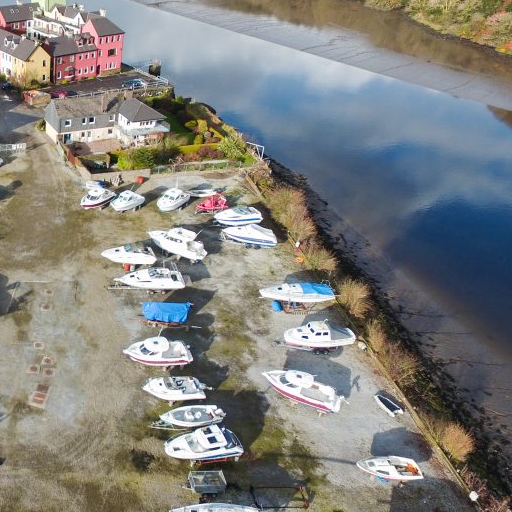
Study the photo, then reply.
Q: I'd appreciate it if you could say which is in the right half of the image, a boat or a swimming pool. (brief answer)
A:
boat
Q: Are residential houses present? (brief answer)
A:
Yes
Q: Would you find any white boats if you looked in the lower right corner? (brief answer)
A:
Yes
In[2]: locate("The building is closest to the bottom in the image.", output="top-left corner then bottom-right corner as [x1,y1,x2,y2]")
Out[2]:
[54,86,170,152]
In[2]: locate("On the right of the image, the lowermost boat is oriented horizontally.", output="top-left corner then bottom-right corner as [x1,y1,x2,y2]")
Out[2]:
[358,457,424,487]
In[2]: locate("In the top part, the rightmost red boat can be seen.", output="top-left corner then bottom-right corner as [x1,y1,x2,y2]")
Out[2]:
[194,194,233,214]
